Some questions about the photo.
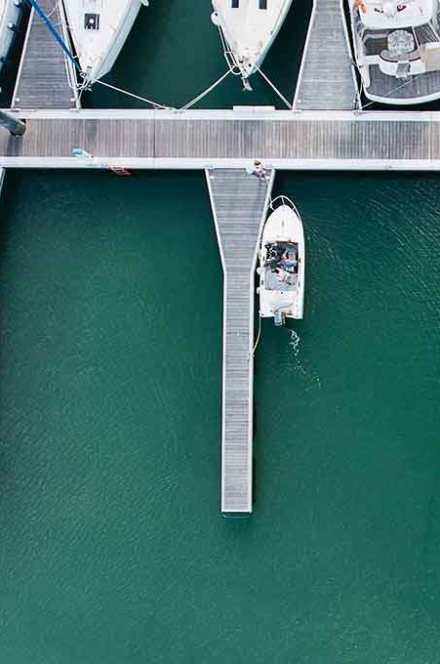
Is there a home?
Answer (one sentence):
No, the scene contains no home.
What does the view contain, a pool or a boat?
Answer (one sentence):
Visible in the photo is a boat.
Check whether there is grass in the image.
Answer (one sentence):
No, grass can't be seen anywhere here.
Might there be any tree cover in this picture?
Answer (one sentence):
No, tree cover can't be seen anywhere here.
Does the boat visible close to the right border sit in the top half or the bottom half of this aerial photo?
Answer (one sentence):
The boat visible close to the right border is in the top half of the image.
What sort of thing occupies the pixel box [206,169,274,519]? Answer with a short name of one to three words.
pier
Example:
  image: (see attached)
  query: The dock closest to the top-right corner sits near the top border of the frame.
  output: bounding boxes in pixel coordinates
[293,0,361,112]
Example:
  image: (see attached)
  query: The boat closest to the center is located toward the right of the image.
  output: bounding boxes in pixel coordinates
[259,195,306,323]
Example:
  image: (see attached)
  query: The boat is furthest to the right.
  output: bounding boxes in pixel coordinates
[351,0,440,108]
